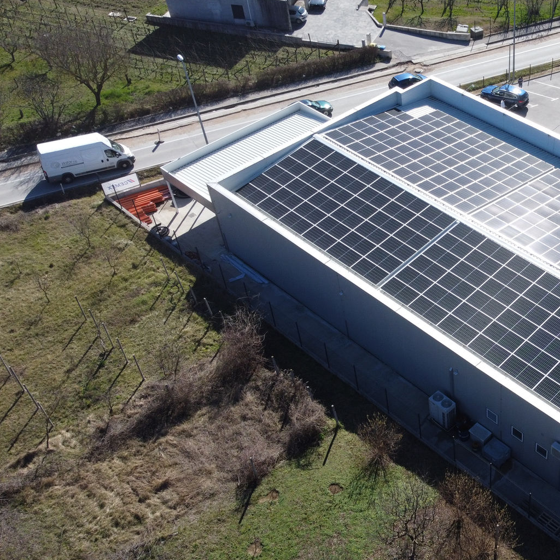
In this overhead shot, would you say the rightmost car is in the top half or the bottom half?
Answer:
top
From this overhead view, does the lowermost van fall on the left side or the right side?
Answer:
left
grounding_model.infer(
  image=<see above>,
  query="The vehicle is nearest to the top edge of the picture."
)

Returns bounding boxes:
[289,3,312,25]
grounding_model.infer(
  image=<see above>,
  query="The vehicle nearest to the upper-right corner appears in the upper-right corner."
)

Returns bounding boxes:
[480,83,532,110]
